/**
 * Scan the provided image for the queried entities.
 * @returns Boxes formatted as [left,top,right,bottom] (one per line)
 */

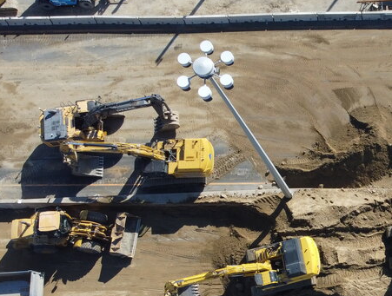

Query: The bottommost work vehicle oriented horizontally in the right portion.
[164,237,324,296]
